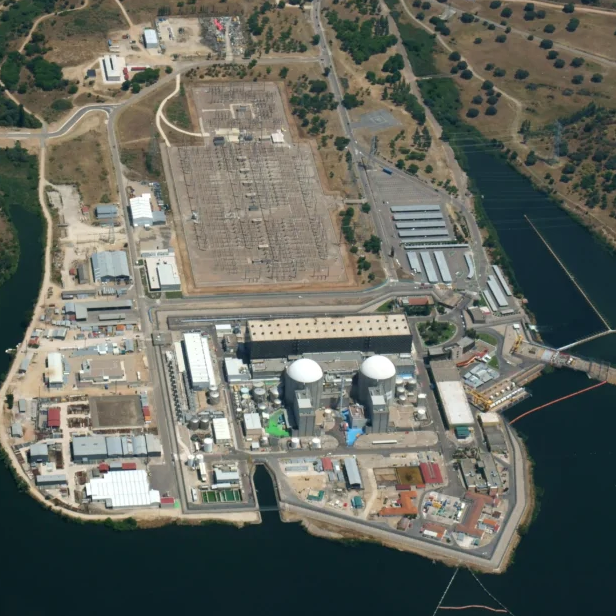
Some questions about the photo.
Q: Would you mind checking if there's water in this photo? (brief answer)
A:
Yes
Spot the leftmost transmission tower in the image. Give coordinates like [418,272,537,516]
[101,210,119,245]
